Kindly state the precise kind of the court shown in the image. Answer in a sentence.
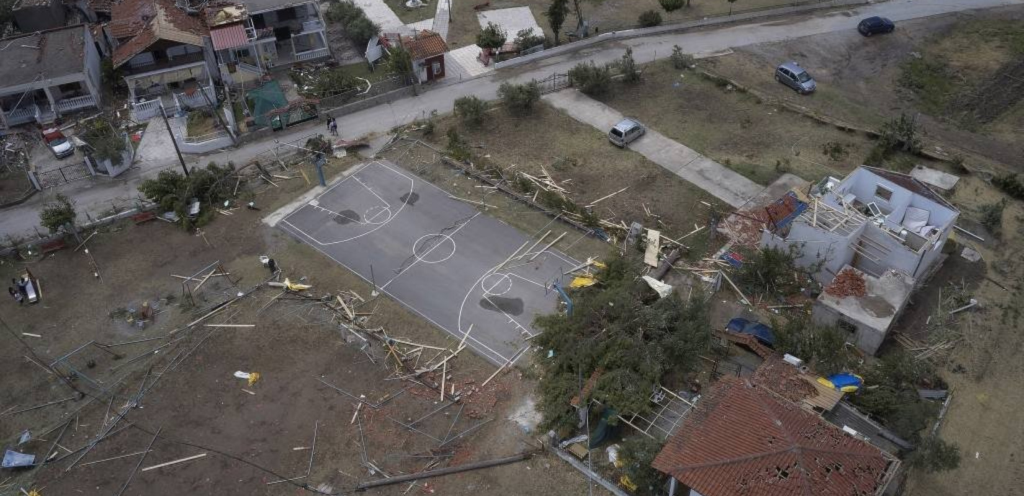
I'd say the court is a basketball court.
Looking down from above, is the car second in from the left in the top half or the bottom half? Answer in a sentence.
Seen from above, the car second in from the left lies in the top half of the view.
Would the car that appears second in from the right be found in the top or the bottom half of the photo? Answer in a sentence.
You can find the car that appears second in from the right in the top half.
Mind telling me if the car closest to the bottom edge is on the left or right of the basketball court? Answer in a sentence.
The basketball court has the car closest to the bottom edge on its right side.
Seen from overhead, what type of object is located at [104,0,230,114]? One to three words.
house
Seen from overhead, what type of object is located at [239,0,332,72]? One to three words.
house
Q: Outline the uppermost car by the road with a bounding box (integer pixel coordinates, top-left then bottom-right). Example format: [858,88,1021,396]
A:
[858,19,895,36]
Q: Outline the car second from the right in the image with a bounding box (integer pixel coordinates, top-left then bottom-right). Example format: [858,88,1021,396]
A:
[777,65,815,93]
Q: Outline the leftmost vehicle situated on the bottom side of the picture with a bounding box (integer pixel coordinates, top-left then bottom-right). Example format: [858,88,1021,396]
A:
[727,318,783,350]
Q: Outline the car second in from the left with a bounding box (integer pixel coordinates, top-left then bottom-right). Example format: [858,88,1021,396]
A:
[608,121,648,147]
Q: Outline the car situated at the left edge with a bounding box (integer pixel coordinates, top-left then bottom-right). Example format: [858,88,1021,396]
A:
[41,131,69,159]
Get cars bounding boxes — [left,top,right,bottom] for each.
[777,65,815,93]
[608,121,648,147]
[858,19,895,36]
[727,318,783,350]
[41,131,69,159]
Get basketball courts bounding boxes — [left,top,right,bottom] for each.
[274,155,616,378]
